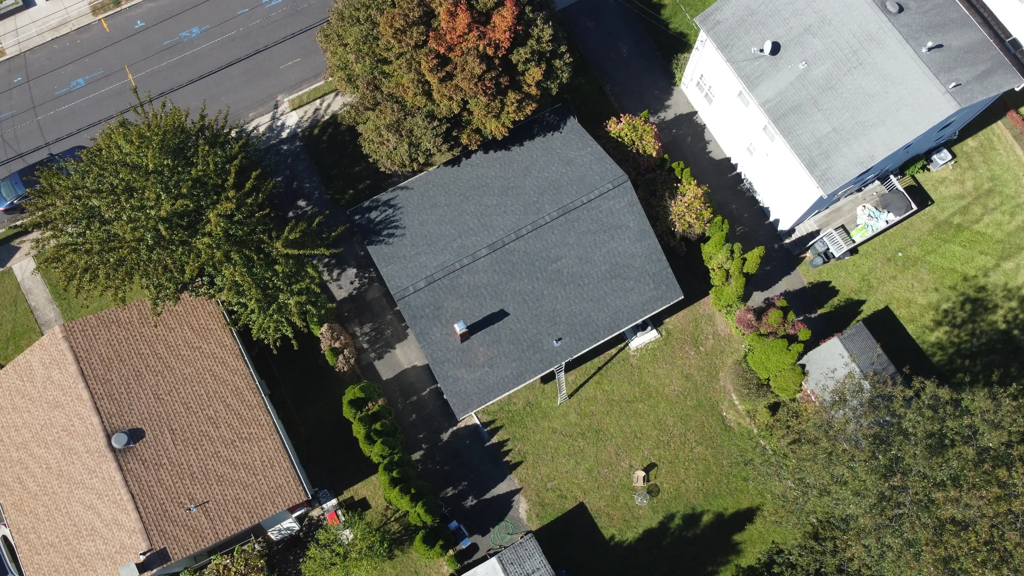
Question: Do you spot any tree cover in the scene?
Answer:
Yes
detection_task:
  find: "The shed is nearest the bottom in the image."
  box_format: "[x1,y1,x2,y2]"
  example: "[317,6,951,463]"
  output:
[461,533,555,576]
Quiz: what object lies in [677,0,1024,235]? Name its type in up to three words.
house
